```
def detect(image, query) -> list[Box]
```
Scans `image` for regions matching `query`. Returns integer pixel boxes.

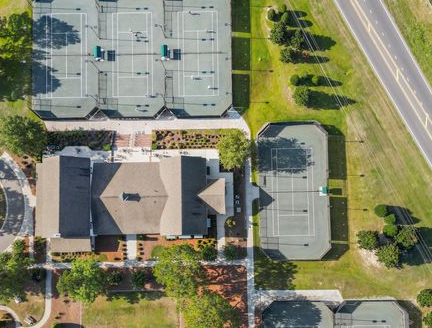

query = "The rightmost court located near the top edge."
[165,0,231,116]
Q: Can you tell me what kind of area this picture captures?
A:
sports ground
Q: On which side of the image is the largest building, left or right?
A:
left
